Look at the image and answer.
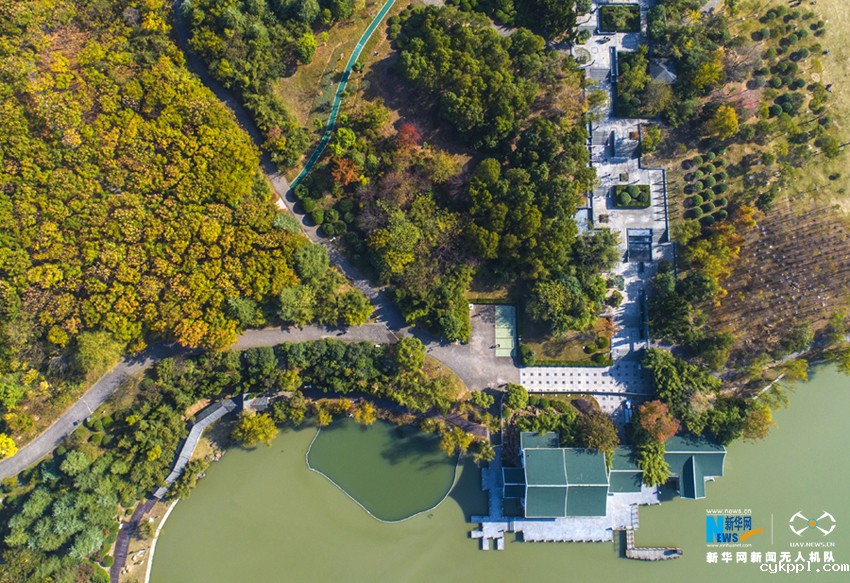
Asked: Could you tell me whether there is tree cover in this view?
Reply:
Yes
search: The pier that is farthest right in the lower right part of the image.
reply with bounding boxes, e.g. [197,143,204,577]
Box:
[626,529,682,560]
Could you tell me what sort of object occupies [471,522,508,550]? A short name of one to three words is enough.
pier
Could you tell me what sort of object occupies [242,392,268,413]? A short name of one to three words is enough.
house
